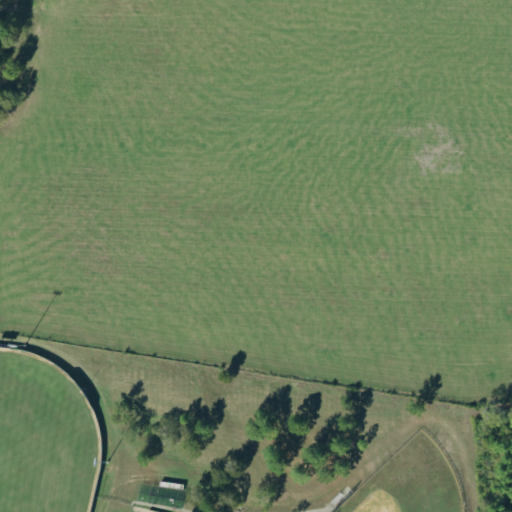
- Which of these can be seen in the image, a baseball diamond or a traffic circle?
baseball diamond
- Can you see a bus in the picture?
No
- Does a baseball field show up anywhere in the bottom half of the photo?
Yes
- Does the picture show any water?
No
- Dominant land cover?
grass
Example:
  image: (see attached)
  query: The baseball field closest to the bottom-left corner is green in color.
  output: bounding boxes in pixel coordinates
[0,348,102,512]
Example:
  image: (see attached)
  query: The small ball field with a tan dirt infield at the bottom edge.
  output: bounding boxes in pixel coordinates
[332,430,464,512]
